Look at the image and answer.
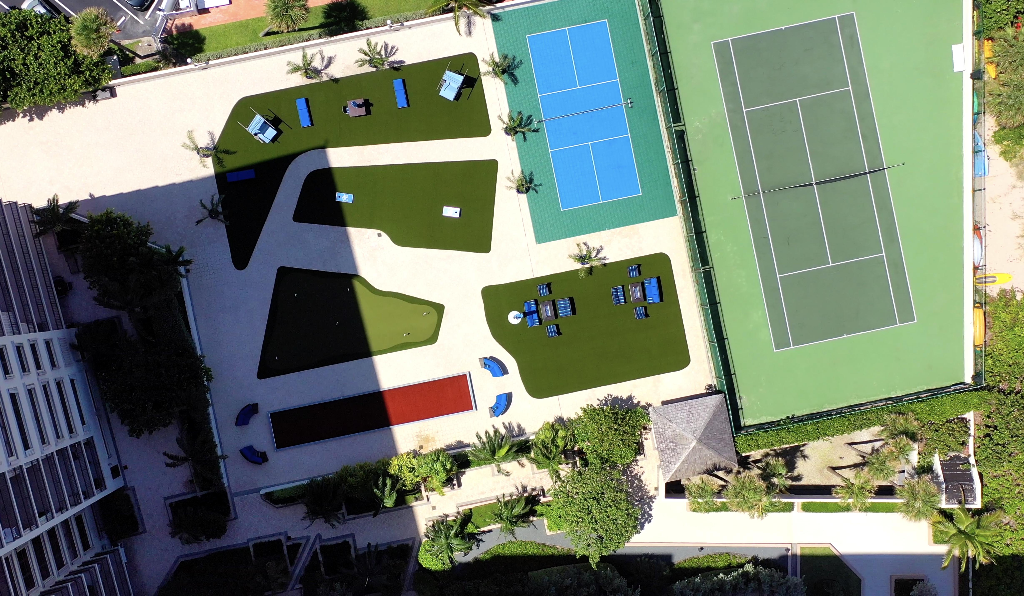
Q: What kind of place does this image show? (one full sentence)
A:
The area seen from above is a sports ground.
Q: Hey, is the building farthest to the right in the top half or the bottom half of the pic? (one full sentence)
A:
The building farthest to the right is in the bottom half of the image.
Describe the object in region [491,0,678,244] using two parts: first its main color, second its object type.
blue sports court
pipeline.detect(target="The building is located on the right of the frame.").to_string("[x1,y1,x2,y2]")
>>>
[649,393,738,483]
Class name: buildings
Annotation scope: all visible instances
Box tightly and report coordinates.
[0,198,140,596]
[649,393,738,483]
